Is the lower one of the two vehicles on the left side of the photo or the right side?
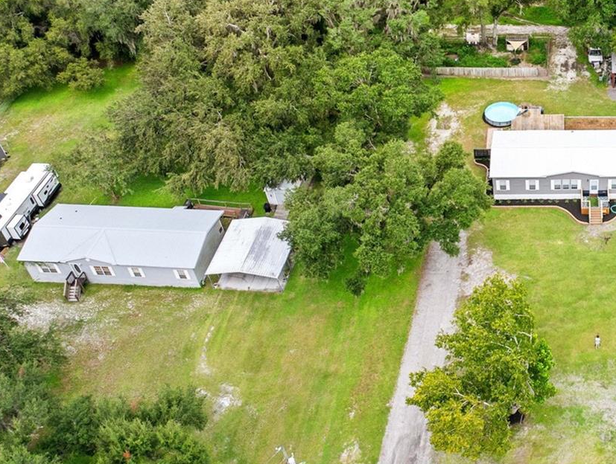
left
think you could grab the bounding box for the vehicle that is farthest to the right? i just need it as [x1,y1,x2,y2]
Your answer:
[589,44,604,69]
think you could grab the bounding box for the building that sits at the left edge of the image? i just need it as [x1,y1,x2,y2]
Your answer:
[17,204,227,287]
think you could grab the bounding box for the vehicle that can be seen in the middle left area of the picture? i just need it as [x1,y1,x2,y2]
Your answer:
[0,165,57,256]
